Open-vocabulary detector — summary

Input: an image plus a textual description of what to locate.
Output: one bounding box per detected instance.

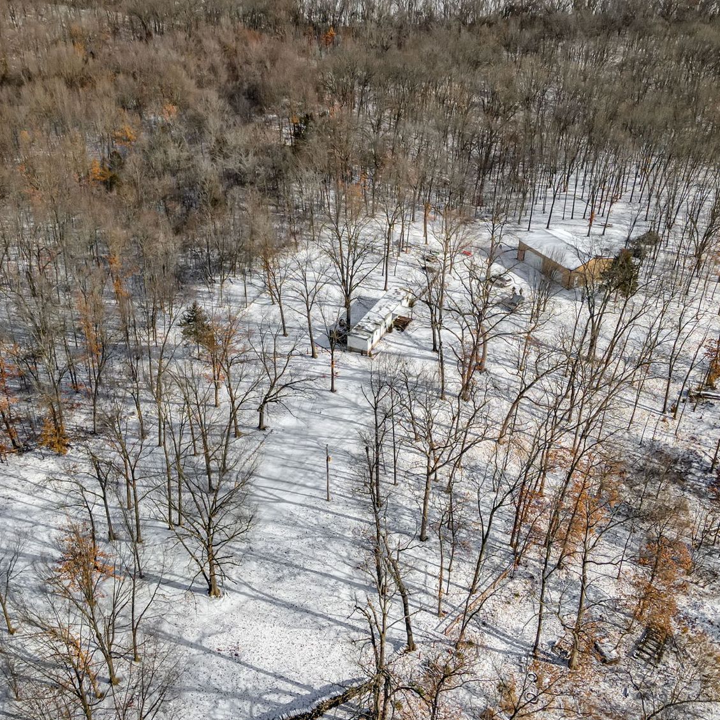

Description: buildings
[518,224,616,289]
[346,283,409,350]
